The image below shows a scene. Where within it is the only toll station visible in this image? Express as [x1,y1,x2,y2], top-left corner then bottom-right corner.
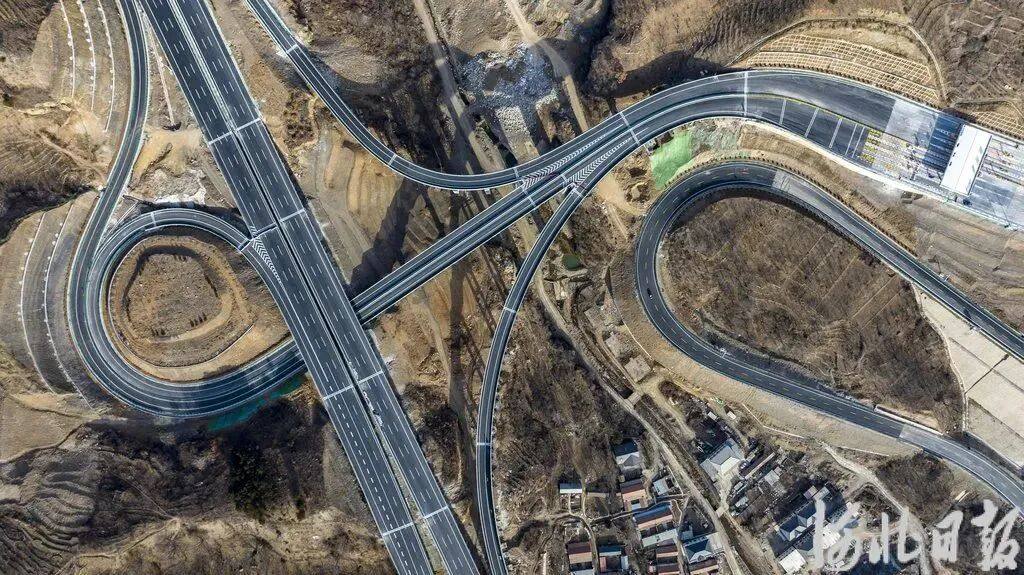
[856,93,1024,232]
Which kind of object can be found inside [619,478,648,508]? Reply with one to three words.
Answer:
house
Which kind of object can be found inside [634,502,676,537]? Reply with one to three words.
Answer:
house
